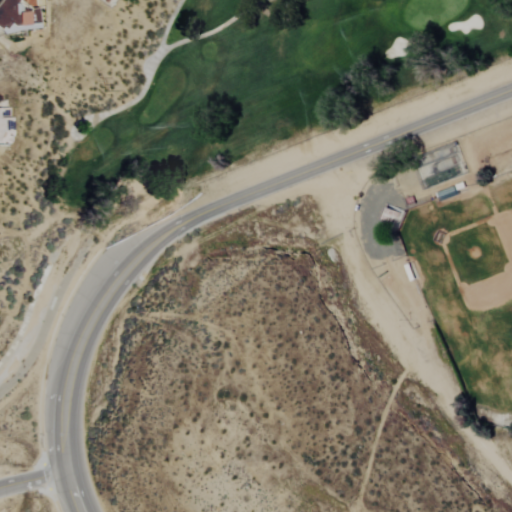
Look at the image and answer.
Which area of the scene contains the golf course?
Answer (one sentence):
The golf course appears toward the top of the photo.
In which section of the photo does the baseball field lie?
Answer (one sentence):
The baseball field appears toward the right of the photo.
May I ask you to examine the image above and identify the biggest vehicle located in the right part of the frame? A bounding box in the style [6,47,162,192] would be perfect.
[436,184,465,200]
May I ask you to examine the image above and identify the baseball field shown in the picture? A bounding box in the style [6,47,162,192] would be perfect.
[400,178,512,412]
